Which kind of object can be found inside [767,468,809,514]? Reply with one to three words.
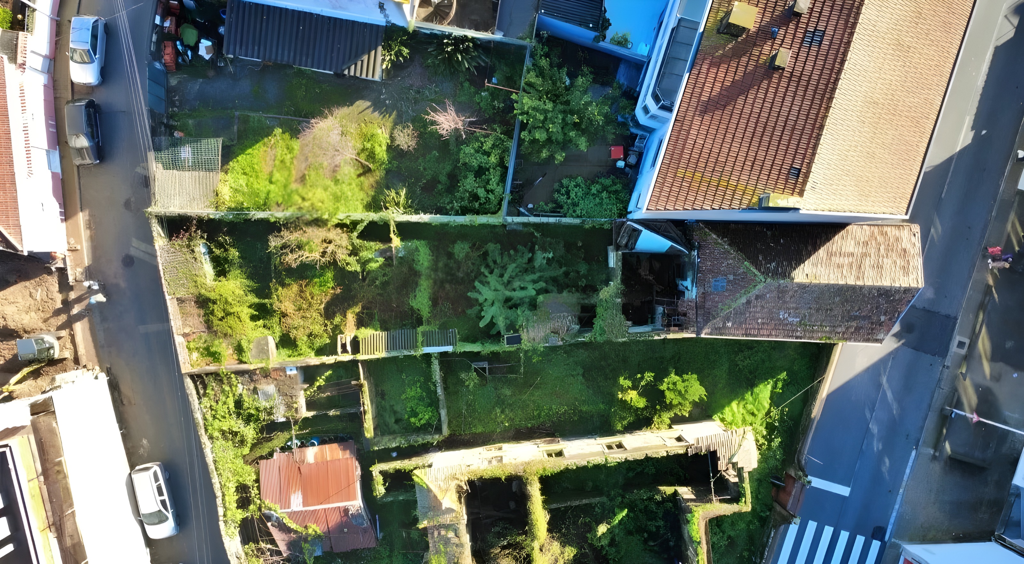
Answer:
shed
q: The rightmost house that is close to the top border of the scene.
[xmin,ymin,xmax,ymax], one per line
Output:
[624,0,979,222]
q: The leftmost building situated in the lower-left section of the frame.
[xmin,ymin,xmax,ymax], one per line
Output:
[0,366,149,564]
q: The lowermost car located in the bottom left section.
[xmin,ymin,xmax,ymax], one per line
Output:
[132,463,180,538]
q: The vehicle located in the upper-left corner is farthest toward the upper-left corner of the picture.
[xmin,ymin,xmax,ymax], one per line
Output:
[69,15,110,87]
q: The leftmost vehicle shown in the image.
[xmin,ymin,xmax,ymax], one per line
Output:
[0,332,71,401]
